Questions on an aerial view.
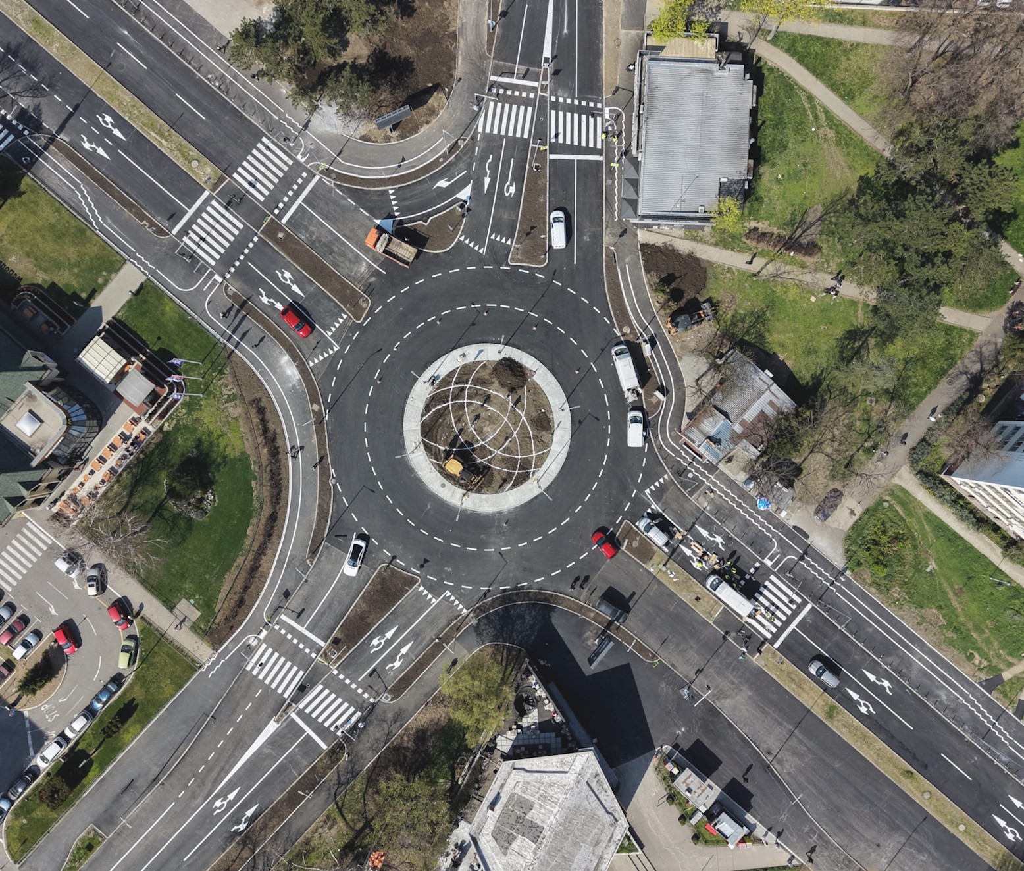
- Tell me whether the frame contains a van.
Yes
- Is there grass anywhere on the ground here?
Yes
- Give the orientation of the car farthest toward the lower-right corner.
at an angle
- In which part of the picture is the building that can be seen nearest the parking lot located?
left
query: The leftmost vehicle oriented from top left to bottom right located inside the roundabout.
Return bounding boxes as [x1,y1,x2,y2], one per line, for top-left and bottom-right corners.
[435,448,487,491]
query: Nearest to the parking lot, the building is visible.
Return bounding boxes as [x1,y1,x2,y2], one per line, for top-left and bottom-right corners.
[0,322,111,532]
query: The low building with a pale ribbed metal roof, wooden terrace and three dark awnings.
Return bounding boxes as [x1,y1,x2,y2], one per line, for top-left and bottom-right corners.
[622,32,757,235]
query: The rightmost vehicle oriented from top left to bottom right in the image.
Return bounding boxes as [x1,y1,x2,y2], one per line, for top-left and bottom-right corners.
[806,658,842,691]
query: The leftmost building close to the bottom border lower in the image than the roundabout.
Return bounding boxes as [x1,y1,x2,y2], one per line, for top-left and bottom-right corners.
[469,675,629,871]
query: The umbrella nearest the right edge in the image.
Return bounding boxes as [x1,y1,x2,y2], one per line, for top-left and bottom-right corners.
[756,496,770,511]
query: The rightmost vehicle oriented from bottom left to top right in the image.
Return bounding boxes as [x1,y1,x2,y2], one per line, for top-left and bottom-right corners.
[813,484,846,522]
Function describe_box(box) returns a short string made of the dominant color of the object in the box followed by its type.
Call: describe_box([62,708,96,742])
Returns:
white car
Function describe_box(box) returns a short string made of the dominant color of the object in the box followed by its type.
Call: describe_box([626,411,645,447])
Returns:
white vehicle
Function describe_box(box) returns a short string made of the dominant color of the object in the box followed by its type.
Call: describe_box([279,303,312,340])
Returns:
red car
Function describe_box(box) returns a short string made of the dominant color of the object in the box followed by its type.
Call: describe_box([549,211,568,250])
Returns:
white vehicle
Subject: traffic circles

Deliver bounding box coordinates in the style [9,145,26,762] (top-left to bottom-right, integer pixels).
[316,253,658,609]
